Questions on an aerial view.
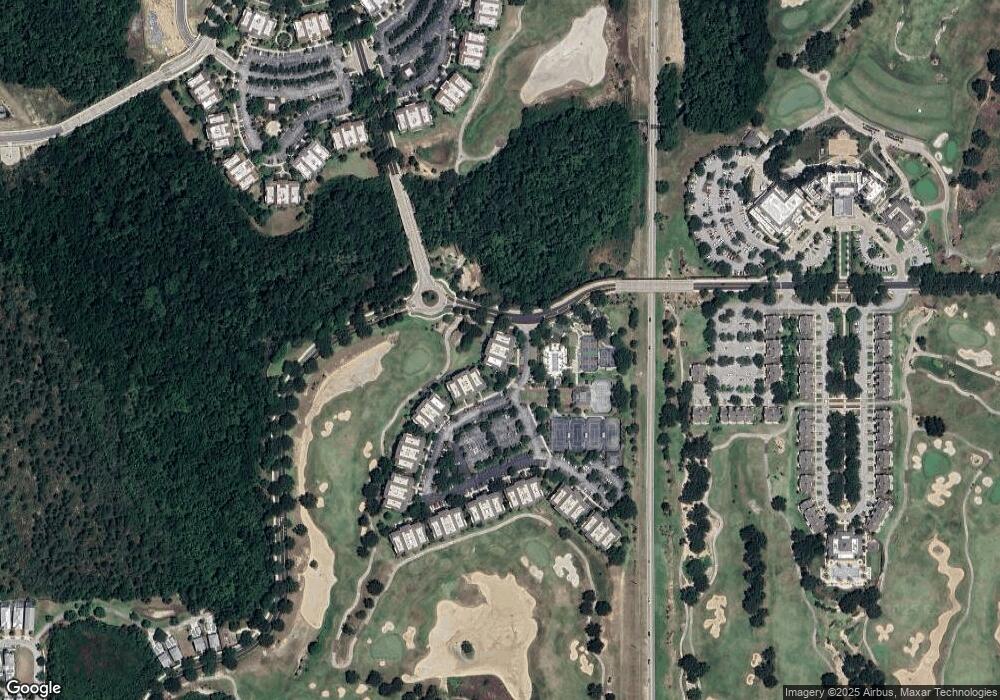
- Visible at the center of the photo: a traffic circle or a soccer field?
traffic circle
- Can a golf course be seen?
Yes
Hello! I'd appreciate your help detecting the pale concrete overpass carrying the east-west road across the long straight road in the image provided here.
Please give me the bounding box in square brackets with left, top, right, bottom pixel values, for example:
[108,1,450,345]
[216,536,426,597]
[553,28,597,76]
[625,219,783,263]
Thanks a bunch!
[558,279,787,315]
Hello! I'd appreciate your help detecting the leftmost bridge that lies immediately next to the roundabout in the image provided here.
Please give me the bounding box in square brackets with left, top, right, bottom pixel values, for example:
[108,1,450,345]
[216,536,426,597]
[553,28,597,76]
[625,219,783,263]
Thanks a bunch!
[387,162,430,277]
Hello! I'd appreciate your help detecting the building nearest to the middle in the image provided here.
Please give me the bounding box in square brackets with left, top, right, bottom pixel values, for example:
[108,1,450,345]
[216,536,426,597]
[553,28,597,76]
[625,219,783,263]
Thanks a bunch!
[479,329,517,370]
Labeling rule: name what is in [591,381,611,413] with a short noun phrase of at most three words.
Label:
sports court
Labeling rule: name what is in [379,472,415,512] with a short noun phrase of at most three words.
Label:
building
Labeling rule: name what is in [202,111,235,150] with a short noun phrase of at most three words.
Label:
building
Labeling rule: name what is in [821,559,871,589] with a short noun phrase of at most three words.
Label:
swimming pool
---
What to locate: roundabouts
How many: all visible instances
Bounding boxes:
[404,272,457,322]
